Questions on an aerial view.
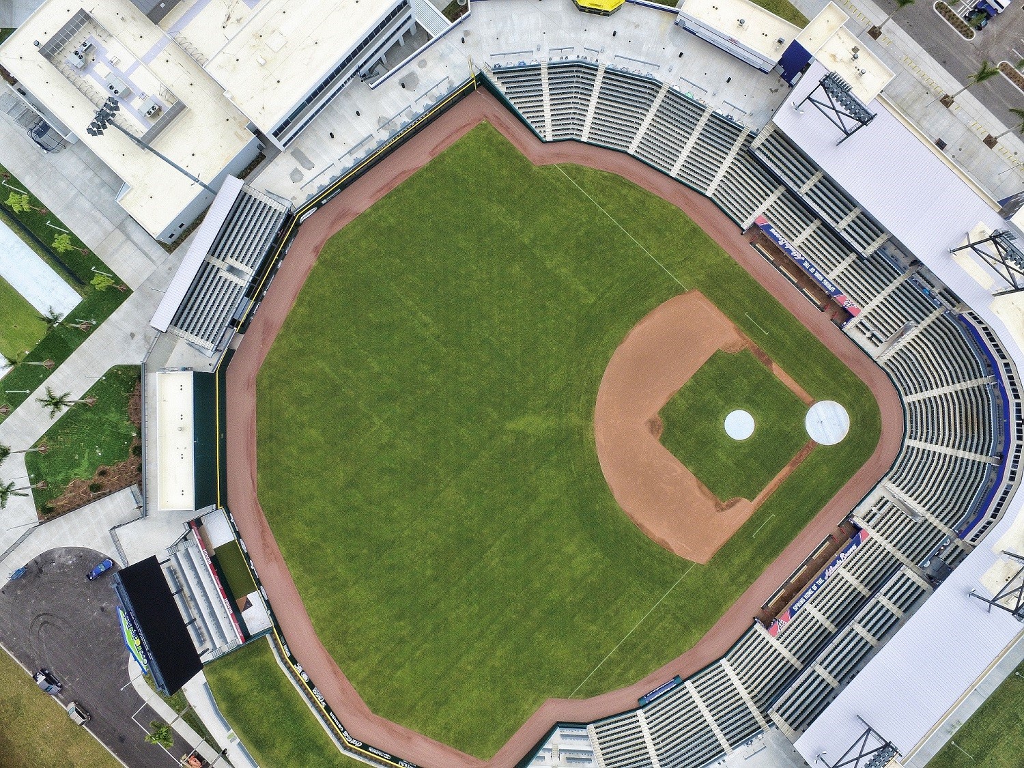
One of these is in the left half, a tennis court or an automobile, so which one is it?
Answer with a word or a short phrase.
automobile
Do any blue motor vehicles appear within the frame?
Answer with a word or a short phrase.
Yes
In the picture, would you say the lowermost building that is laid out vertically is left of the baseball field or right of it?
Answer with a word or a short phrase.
on the left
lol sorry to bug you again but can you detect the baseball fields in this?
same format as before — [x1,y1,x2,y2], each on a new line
[220,89,904,768]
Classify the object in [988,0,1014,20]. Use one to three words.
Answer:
vehicle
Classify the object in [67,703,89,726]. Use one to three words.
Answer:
car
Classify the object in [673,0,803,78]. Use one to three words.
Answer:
building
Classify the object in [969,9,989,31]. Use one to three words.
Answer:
car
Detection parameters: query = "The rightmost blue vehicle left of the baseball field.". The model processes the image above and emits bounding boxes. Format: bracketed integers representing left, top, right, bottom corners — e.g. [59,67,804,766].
[85,559,112,582]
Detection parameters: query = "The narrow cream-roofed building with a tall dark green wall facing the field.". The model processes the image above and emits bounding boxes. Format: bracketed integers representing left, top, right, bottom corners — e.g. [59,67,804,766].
[158,371,217,511]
